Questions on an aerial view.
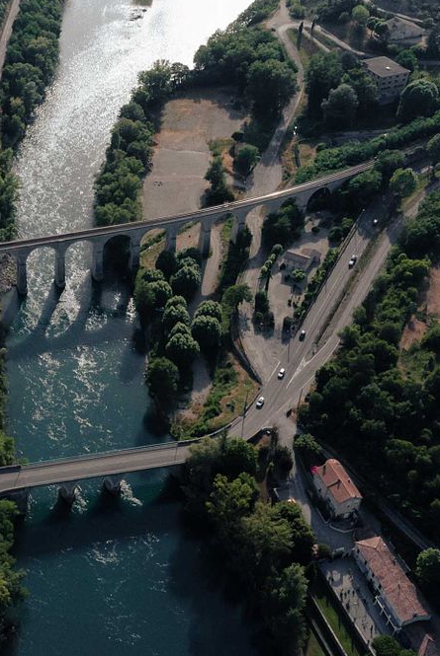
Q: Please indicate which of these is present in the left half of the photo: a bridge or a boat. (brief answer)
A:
bridge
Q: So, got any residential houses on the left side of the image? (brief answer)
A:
No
